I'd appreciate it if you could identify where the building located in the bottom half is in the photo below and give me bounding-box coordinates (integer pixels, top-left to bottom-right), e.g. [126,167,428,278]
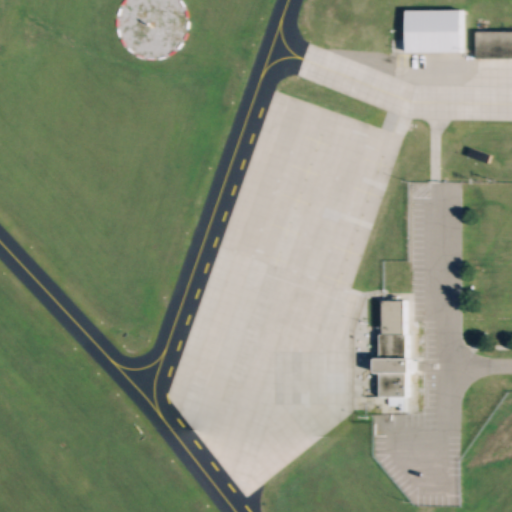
[370,300,406,397]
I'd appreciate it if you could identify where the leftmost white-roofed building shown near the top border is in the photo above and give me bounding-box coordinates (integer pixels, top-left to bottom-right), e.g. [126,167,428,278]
[404,10,466,53]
